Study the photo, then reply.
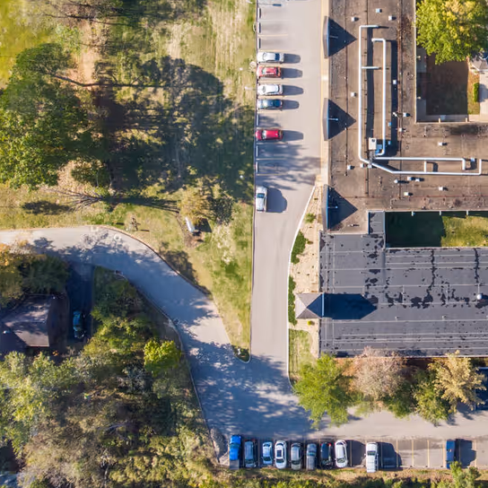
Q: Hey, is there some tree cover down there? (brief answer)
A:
Yes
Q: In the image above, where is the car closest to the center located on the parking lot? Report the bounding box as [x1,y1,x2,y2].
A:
[255,184,268,211]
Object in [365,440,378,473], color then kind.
white vehicle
